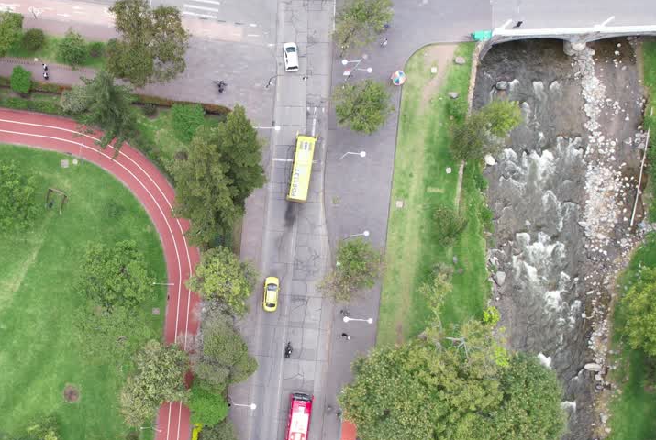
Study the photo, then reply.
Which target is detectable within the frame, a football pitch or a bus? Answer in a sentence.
It is a bus that can be seen here.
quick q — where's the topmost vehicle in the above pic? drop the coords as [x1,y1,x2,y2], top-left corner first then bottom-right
[282,42,298,73]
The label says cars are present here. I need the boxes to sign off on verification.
[263,276,280,312]
[282,42,298,73]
